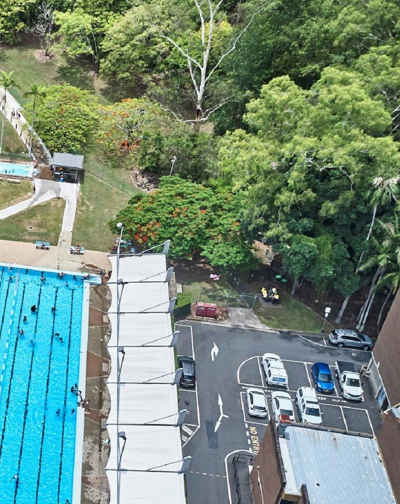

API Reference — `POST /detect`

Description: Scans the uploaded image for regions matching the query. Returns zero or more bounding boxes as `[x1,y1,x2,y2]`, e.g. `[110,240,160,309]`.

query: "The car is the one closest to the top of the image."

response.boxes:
[330,327,374,354]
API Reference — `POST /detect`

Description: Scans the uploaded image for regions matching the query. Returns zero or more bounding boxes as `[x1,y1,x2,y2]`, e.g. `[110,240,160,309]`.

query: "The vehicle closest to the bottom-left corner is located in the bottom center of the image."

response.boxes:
[179,354,200,387]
